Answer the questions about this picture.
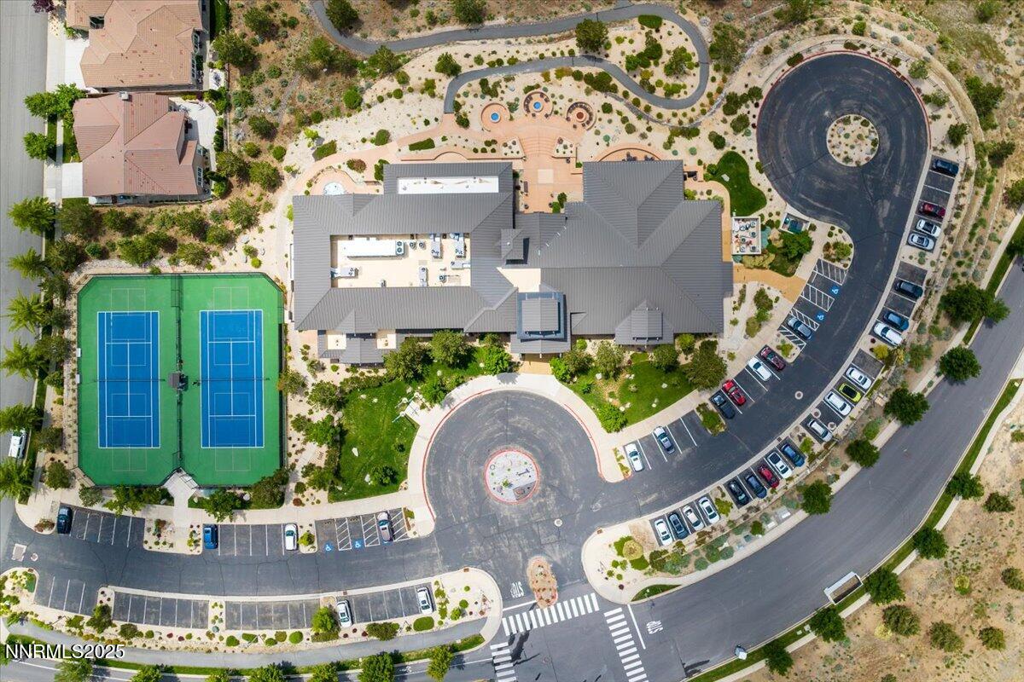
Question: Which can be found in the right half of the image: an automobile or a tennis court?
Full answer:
There is an automobile in the right half of the image.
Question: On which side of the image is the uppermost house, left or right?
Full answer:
The uppermost house is on the left side of the image.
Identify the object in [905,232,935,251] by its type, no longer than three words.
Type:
car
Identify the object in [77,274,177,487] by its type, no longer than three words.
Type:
tennis court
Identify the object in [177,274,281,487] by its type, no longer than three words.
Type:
tennis court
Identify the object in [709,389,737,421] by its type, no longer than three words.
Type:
truck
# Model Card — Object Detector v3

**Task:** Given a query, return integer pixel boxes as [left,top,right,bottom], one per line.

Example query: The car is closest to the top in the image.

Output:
[929,158,960,176]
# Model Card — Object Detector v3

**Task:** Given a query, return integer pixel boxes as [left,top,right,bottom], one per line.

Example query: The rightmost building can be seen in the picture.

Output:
[293,160,733,363]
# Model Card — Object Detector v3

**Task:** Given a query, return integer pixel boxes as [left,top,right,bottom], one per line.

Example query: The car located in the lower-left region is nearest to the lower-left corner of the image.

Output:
[55,505,74,535]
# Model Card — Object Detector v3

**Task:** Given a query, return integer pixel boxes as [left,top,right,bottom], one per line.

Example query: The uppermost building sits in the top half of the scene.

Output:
[67,0,207,88]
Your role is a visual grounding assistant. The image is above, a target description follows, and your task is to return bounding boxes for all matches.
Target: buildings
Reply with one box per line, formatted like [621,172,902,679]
[73,90,202,196]
[293,160,733,363]
[67,0,207,88]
